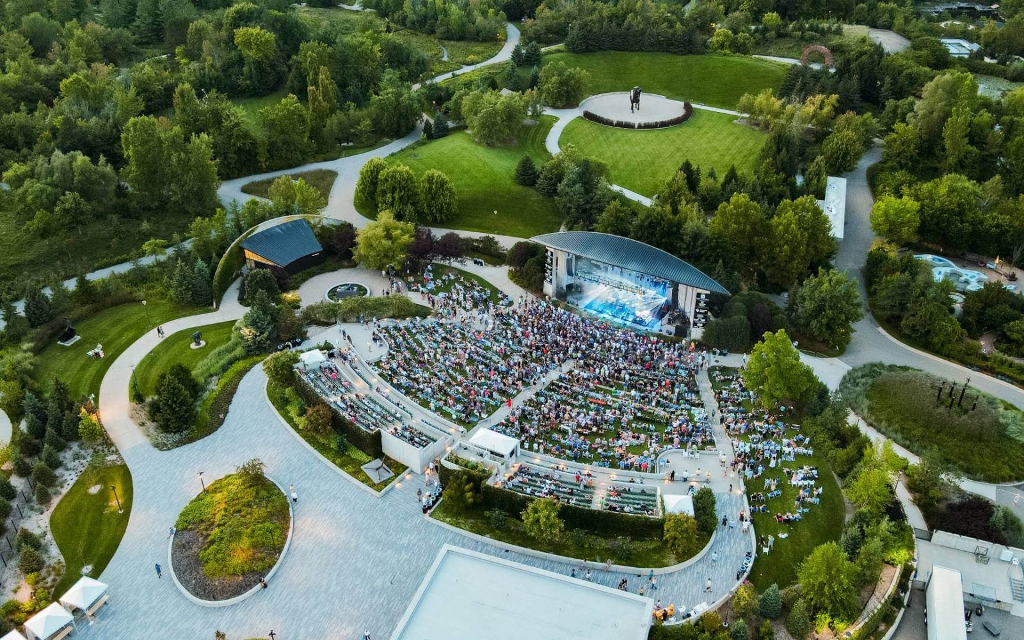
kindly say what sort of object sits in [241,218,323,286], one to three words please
barn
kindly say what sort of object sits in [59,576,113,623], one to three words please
tent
